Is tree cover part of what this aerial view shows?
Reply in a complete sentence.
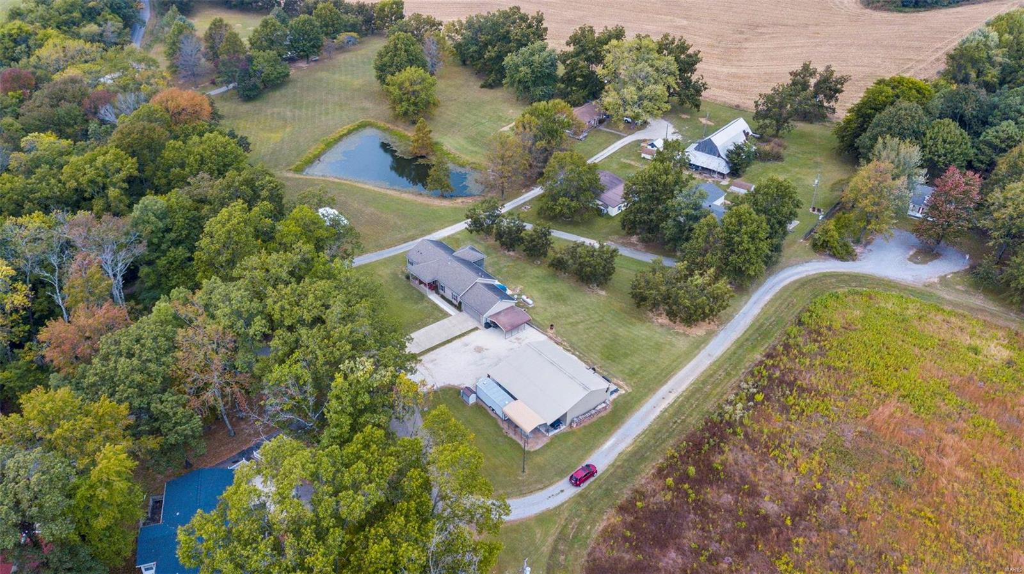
Yes, some tree cover is visible.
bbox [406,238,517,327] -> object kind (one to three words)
house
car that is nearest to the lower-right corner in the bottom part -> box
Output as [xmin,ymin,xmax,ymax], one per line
[568,466,599,491]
